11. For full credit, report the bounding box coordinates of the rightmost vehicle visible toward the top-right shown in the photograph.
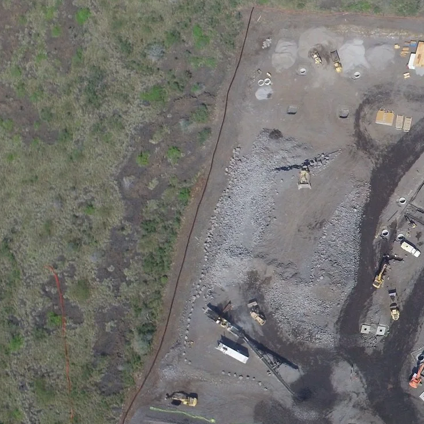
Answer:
[327,48,342,71]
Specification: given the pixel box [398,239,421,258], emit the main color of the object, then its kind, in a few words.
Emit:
white vehicle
